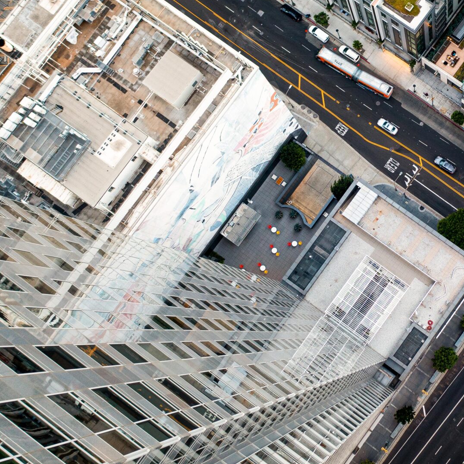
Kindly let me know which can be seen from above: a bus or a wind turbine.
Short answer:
bus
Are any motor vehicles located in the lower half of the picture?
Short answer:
No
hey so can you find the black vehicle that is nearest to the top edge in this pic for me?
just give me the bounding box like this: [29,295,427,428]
[279,4,303,23]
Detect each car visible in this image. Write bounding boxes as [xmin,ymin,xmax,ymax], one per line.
[376,118,399,136]
[279,4,303,23]
[308,25,331,44]
[434,155,458,176]
[339,44,361,63]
